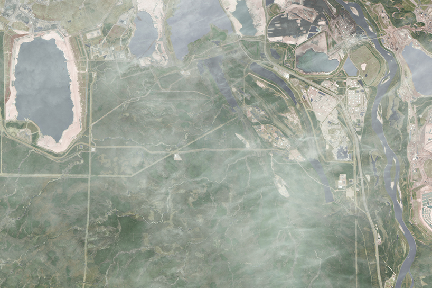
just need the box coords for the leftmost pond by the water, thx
[13,38,73,143]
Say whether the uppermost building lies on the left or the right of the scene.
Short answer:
right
